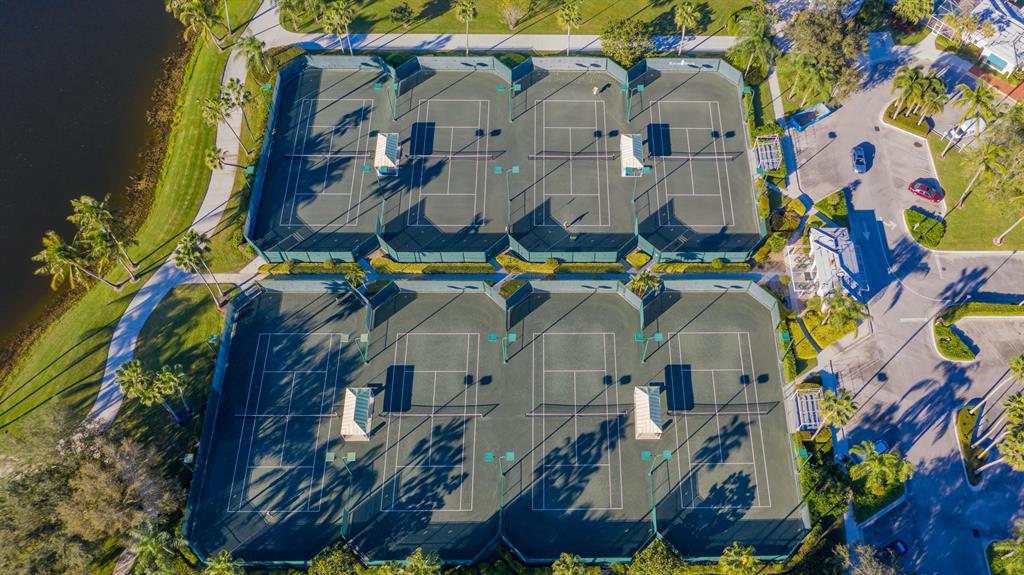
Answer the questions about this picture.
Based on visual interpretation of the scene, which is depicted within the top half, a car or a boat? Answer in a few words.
car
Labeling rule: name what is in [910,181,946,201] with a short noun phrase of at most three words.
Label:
car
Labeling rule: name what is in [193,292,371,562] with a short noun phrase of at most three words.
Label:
tennis court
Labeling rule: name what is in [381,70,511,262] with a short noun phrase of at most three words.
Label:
tennis court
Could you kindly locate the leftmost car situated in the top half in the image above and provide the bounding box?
[852,143,868,171]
